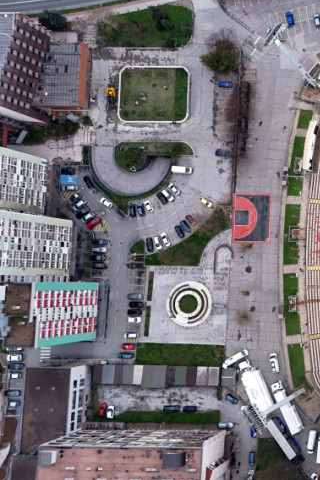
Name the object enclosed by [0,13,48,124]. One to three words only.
building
